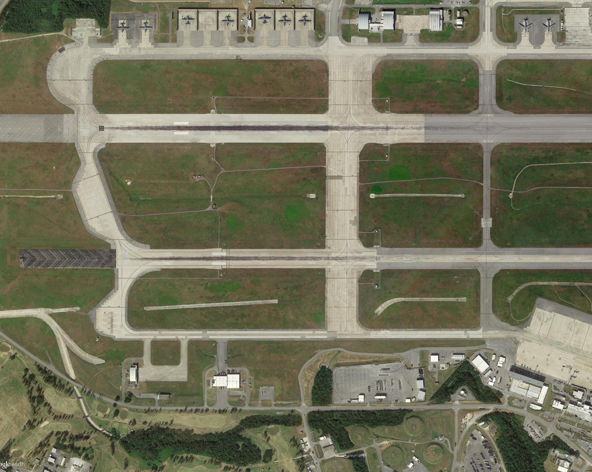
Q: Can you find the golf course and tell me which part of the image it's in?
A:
bottom left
